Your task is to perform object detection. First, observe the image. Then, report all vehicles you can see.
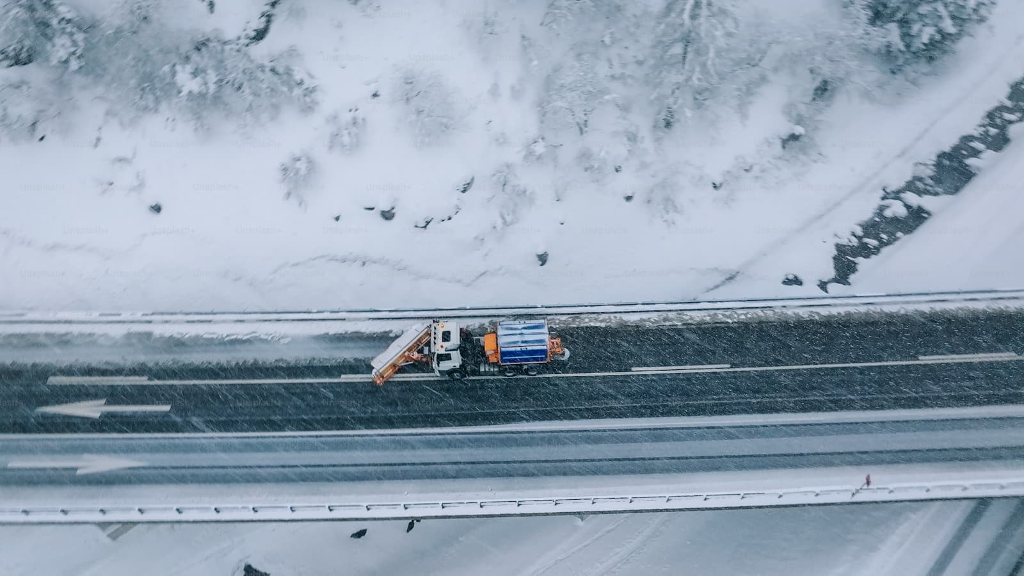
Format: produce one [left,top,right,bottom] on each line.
[370,317,571,389]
